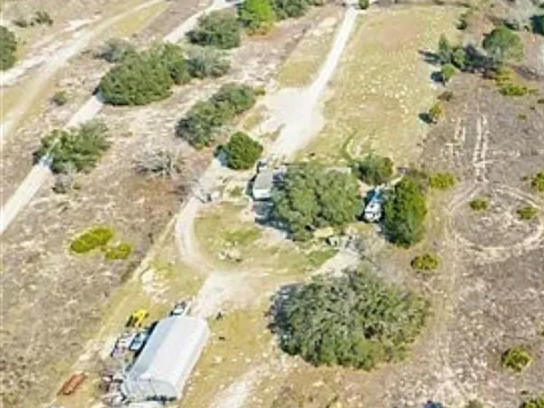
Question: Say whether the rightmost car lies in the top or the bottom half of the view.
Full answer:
The rightmost car is in the bottom half of the image.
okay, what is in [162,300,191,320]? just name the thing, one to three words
car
